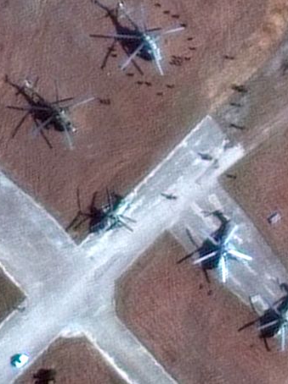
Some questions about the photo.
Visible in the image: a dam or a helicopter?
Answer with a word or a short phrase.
helicopter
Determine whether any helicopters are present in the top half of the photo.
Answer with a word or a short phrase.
Yes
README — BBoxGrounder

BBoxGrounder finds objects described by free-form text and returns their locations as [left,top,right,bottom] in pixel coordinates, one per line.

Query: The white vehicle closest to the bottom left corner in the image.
[10,353,30,370]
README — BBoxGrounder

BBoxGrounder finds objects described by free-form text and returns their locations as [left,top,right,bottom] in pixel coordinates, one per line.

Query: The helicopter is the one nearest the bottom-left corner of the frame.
[77,184,147,256]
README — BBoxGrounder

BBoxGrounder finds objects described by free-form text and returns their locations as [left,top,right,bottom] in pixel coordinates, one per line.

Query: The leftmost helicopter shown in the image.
[19,74,94,143]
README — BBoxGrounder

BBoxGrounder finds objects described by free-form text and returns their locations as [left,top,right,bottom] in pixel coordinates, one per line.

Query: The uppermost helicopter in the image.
[107,1,182,70]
